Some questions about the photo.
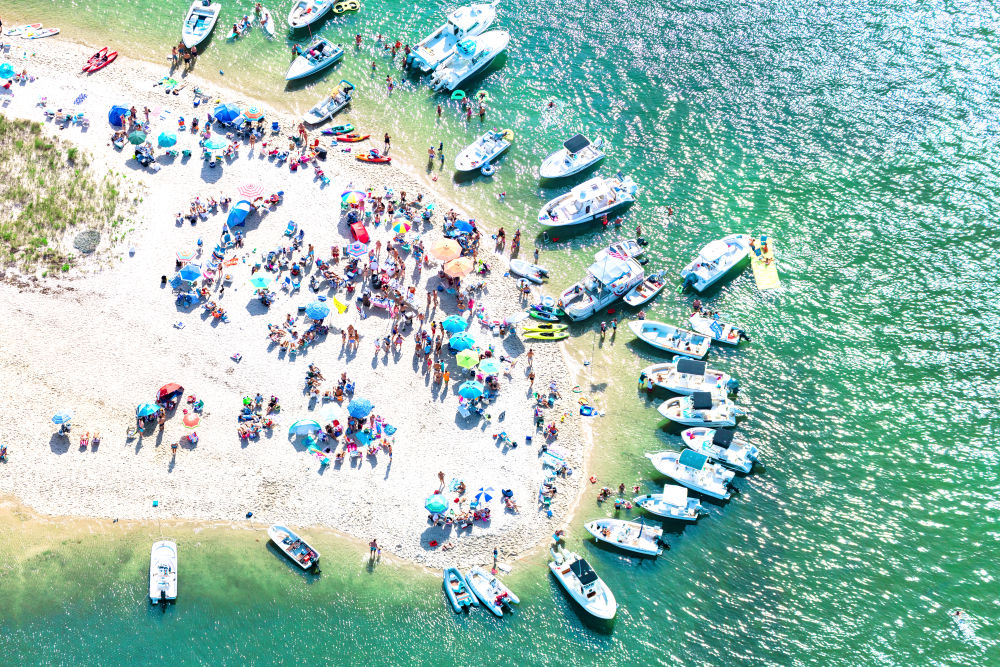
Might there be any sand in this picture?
Yes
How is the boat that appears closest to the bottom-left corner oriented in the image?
vertically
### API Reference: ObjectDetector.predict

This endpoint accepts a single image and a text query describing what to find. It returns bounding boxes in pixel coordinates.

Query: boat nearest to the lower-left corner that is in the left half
[148,540,179,615]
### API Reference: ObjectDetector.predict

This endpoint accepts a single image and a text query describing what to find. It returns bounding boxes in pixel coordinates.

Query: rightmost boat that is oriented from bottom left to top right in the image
[680,238,750,300]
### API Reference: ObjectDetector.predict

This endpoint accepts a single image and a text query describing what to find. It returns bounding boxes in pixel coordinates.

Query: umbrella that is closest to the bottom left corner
[53,412,73,427]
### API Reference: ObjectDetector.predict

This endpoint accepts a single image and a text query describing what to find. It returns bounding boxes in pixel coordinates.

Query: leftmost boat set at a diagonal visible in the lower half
[267,522,324,577]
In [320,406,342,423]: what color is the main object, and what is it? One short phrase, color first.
white umbrella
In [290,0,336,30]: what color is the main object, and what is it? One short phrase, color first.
white boat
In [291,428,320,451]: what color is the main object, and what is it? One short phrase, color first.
blue tent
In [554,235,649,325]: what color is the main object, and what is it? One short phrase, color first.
white boat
